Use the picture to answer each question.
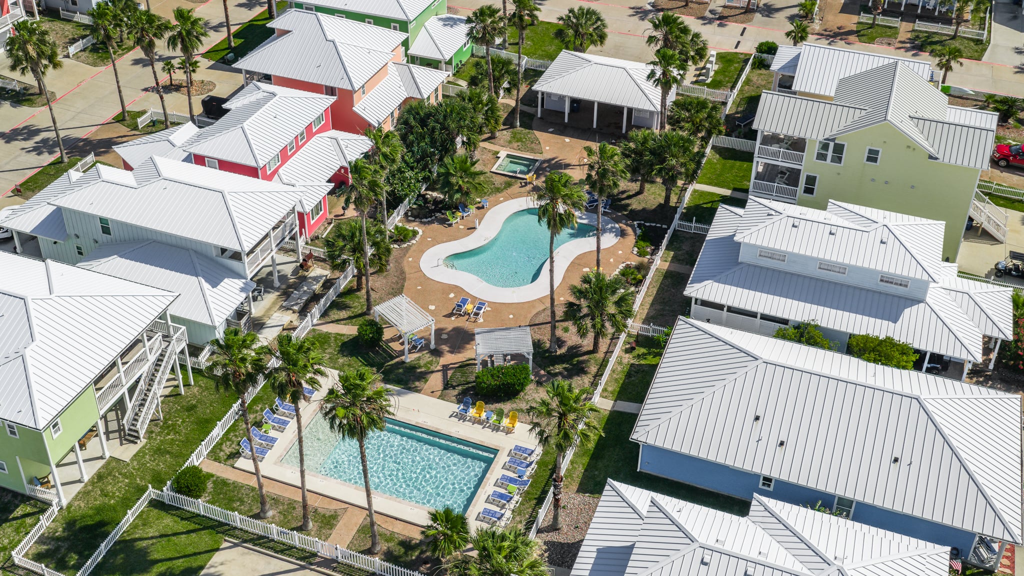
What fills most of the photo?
buildings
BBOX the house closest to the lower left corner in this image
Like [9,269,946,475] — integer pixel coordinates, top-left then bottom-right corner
[0,250,207,502]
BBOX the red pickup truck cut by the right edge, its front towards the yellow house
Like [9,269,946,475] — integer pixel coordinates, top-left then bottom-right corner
[993,147,1024,169]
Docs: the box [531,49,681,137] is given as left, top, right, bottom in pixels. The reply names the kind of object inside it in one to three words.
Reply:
building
